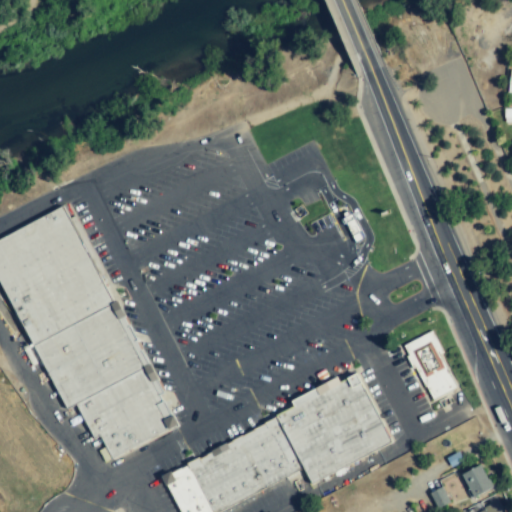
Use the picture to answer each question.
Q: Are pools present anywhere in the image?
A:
No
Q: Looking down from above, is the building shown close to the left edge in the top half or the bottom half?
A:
bottom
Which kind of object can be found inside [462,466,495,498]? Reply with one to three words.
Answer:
house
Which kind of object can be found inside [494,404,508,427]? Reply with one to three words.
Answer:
vehicle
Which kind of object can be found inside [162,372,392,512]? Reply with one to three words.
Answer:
building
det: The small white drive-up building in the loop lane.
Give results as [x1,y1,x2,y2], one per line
[344,212,367,242]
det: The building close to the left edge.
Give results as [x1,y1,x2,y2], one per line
[0,207,179,462]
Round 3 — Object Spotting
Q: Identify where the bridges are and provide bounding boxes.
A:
[326,0,391,84]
